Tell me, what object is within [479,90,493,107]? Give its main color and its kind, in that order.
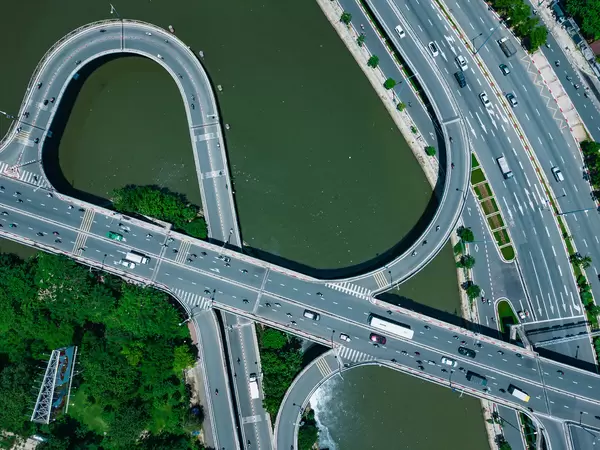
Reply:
white car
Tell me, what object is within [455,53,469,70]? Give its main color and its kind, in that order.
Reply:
white car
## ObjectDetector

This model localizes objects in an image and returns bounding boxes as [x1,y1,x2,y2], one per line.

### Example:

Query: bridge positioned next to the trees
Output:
[0,173,600,434]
